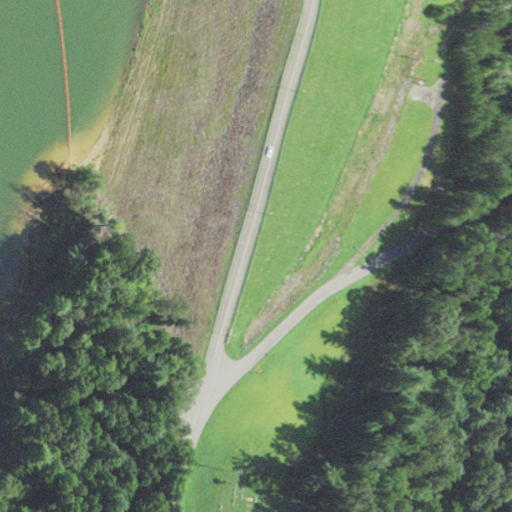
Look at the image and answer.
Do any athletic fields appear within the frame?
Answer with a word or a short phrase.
No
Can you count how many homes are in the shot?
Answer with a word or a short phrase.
zero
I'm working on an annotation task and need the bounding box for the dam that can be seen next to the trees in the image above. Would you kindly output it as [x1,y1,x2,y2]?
[77,0,410,352]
